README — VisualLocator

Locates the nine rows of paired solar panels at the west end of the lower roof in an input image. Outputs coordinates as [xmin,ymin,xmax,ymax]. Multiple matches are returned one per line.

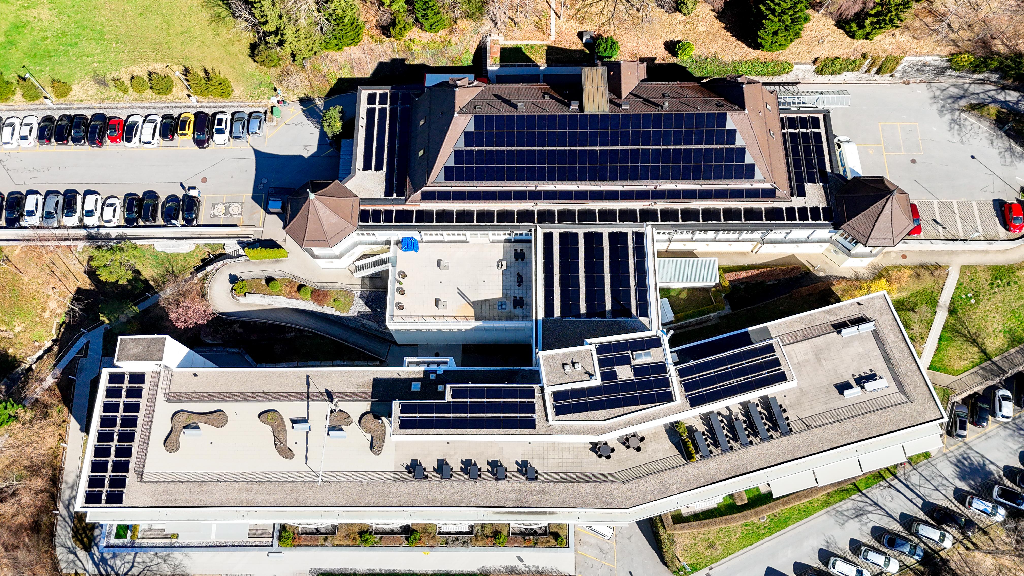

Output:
[83,373,147,506]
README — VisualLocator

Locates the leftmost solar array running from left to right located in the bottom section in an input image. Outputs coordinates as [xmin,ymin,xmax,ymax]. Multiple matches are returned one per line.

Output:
[400,388,544,430]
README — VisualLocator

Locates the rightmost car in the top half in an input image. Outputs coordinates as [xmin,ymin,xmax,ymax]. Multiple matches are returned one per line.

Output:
[1003,202,1024,232]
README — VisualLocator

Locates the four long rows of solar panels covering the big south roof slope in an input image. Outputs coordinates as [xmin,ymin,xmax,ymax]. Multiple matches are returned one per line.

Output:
[433,113,765,182]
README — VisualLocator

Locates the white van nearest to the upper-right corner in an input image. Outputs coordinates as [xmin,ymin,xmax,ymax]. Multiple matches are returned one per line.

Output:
[837,137,871,178]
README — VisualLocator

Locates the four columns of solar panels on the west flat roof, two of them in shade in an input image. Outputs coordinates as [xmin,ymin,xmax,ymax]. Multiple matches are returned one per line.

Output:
[362,91,411,196]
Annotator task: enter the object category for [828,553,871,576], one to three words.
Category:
car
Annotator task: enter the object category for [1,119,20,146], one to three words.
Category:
car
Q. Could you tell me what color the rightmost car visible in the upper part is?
red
